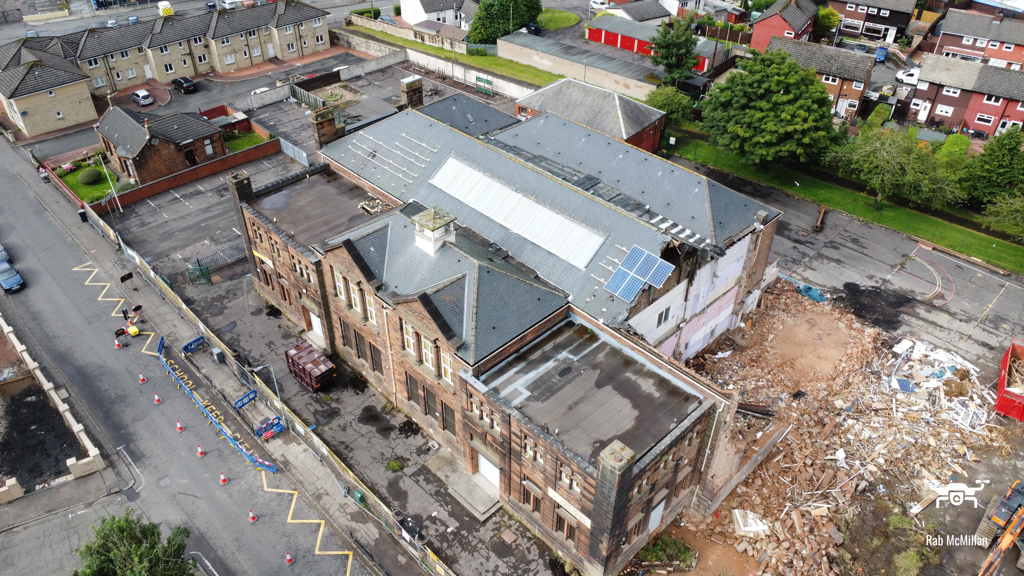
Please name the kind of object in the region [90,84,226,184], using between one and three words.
house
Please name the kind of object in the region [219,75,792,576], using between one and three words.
building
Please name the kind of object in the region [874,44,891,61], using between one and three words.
car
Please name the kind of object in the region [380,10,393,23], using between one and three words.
vehicle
